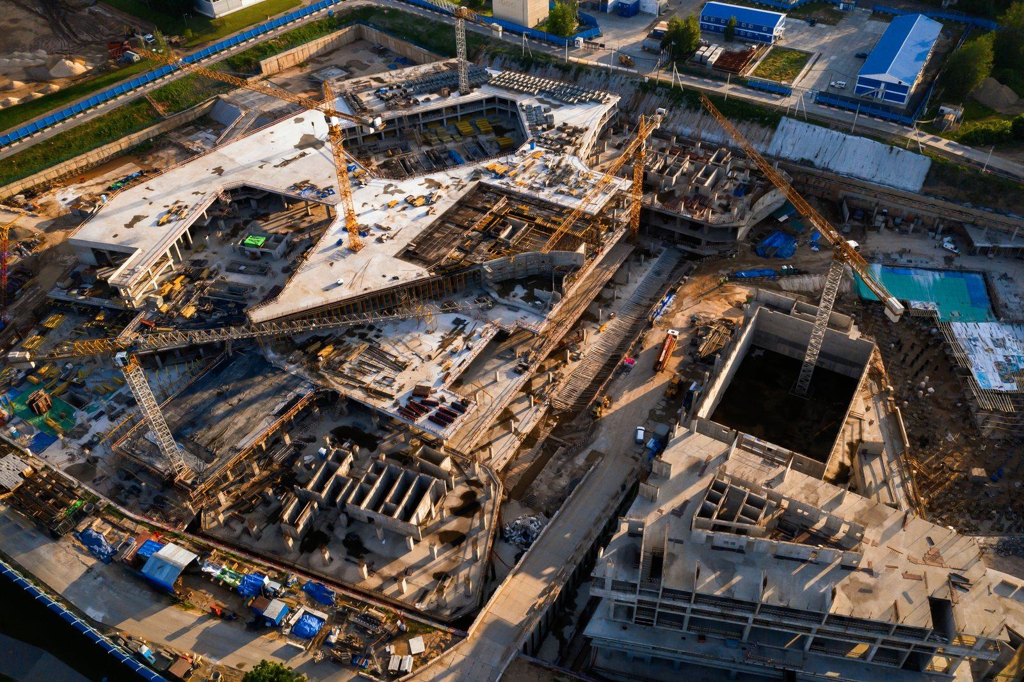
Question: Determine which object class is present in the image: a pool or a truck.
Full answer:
Visible in the photo is a truck.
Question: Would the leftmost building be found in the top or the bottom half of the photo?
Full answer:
You can find the leftmost building in the bottom half.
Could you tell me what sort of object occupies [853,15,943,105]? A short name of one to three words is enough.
building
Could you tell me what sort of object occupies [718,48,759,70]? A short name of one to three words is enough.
building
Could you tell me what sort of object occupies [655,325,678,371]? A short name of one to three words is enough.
truck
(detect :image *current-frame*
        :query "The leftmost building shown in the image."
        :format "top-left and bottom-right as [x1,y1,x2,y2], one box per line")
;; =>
[0,458,87,536]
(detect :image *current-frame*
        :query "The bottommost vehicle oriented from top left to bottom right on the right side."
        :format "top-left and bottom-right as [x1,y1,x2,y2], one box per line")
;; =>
[643,422,668,452]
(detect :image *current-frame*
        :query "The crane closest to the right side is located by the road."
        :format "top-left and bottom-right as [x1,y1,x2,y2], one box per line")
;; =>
[699,94,899,394]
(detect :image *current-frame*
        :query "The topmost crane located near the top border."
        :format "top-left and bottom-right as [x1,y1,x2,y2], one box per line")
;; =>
[415,0,493,97]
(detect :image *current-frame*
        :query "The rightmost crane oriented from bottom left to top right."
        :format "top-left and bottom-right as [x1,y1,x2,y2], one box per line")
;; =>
[543,117,661,251]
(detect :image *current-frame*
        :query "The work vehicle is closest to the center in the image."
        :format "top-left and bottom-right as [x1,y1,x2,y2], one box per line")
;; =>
[591,391,613,413]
